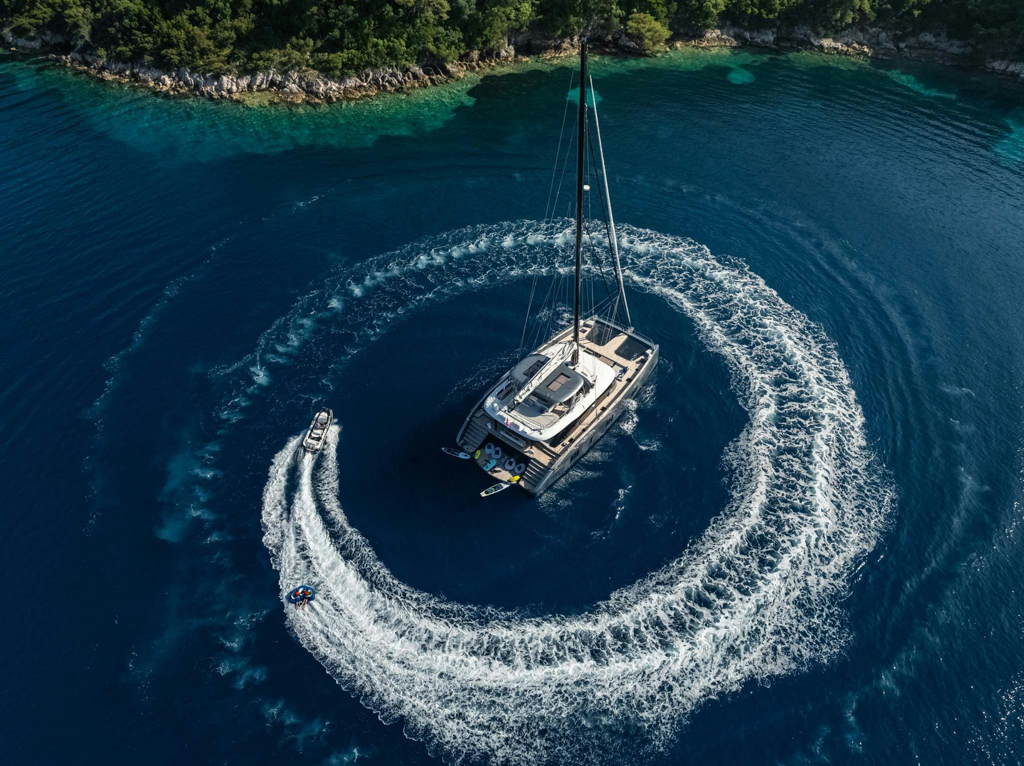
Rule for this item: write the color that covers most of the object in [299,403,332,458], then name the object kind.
gray boat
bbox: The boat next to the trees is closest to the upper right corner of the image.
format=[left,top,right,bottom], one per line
[449,18,660,501]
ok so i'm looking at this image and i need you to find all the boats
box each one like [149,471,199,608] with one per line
[449,18,660,501]
[299,403,332,458]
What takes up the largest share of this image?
water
